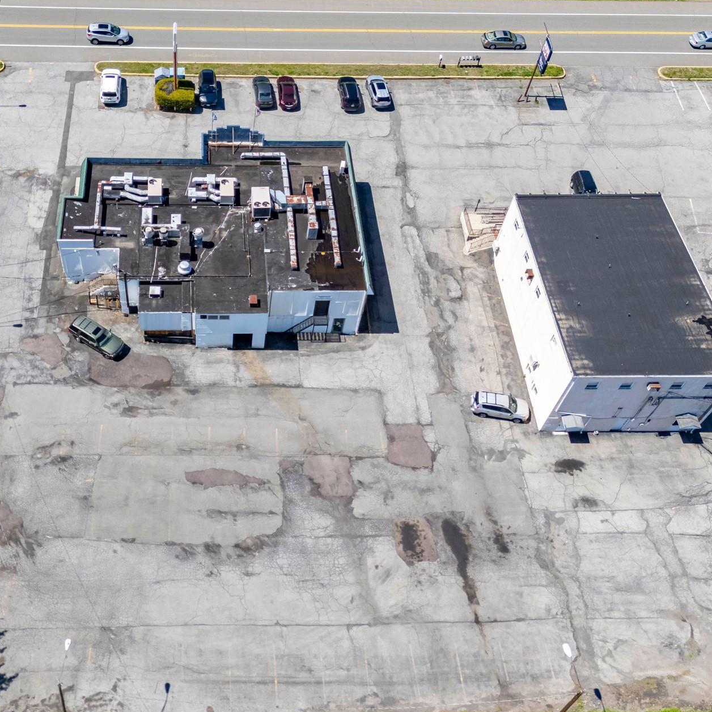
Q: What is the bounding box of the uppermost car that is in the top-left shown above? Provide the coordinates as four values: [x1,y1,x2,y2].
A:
[87,22,129,43]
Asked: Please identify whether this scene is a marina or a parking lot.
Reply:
parking lot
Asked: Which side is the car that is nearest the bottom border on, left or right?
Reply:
right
